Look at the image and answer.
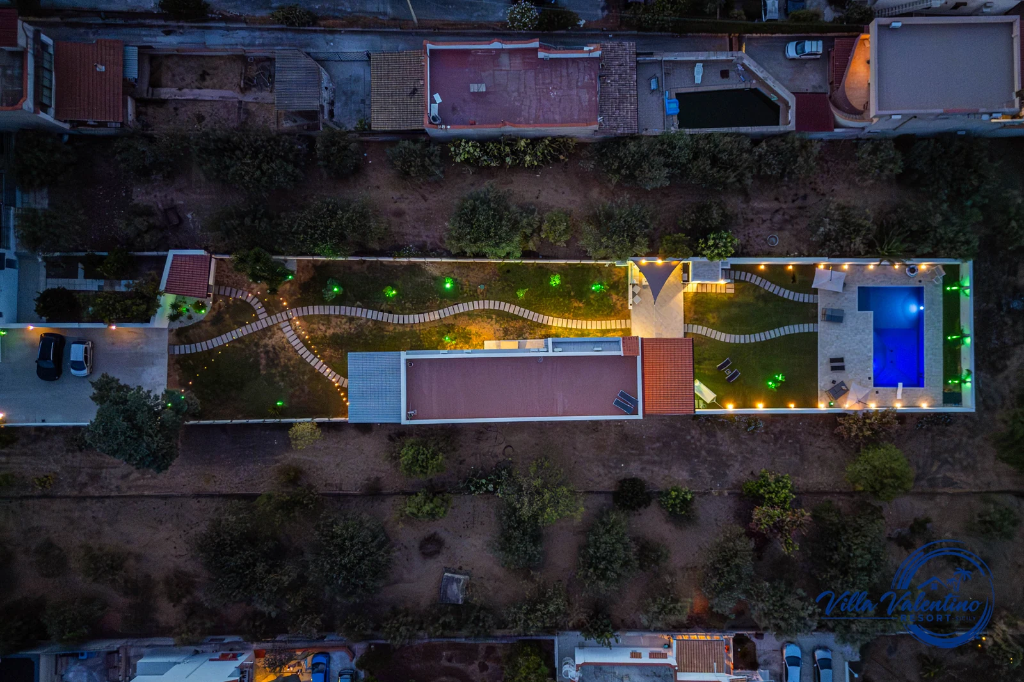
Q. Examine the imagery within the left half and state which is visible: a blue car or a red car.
blue car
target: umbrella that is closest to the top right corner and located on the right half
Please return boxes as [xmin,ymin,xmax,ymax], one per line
[812,268,846,292]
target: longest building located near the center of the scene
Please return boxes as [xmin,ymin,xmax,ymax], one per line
[348,336,696,429]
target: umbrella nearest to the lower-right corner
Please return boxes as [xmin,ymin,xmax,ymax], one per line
[847,382,871,416]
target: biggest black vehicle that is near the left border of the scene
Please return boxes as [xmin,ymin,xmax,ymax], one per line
[36,333,66,380]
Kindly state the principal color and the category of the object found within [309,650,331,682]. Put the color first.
blue car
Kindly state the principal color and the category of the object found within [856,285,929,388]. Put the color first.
blue swimming pool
